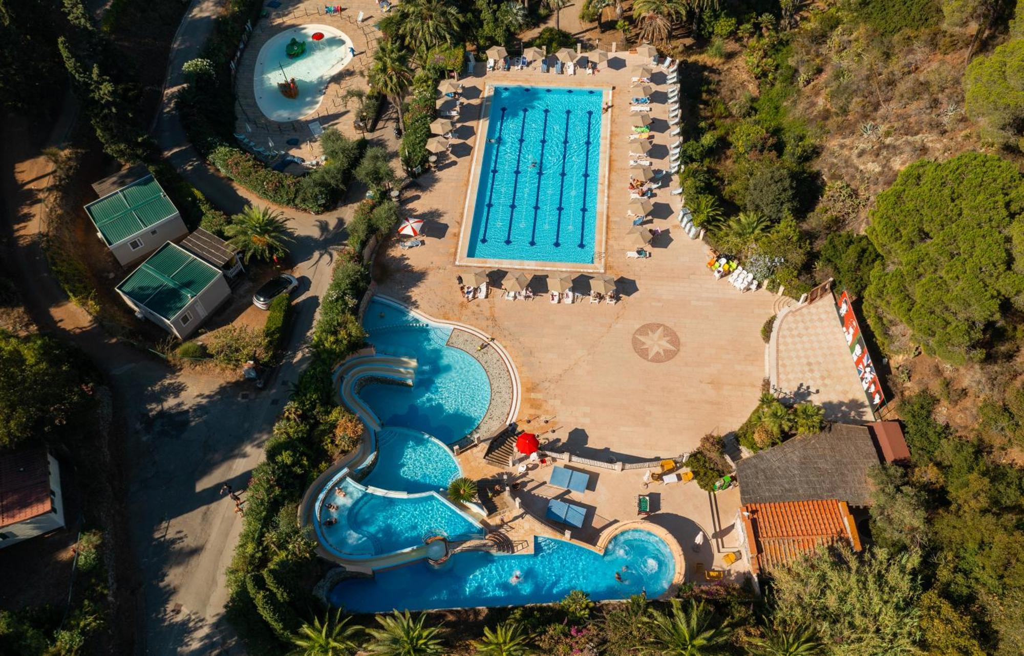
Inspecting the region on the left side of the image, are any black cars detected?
Yes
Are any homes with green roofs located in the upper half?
Yes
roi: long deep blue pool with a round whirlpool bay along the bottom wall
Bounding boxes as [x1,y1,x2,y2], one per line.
[332,520,686,627]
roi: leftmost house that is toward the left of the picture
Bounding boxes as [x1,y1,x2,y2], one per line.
[0,449,70,539]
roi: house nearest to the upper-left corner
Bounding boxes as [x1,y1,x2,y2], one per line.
[84,173,186,262]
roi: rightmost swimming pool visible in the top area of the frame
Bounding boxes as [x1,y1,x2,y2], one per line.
[455,82,610,272]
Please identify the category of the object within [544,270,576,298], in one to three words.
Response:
umbrella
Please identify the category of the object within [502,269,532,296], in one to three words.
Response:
umbrella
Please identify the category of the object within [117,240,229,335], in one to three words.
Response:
house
